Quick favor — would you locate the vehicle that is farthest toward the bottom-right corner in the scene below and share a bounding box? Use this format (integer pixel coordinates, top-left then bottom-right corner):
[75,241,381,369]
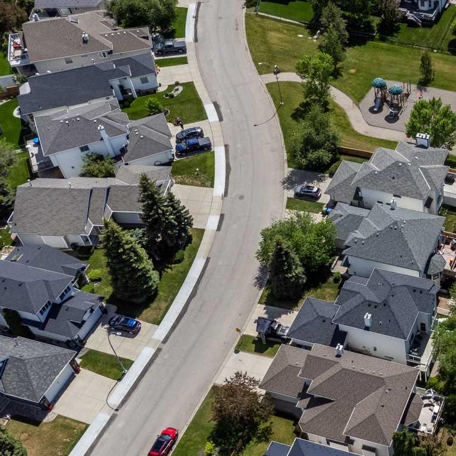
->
[252,307,292,339]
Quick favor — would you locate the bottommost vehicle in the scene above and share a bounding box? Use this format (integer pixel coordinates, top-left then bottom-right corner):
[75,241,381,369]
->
[146,424,176,456]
